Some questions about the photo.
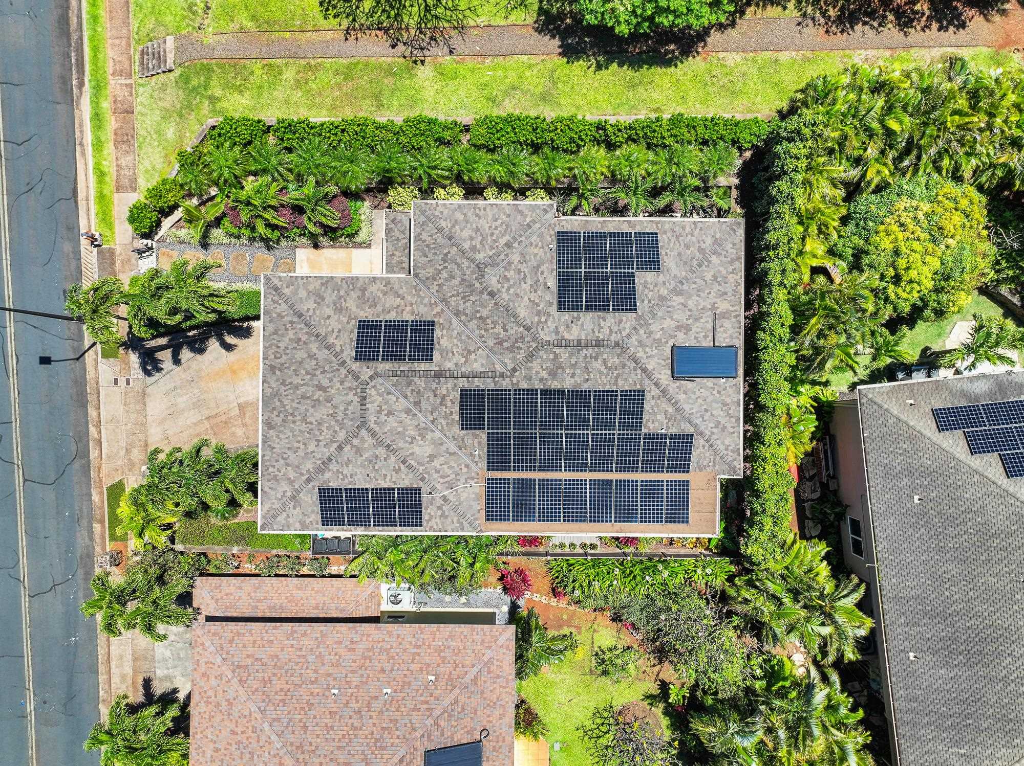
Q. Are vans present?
No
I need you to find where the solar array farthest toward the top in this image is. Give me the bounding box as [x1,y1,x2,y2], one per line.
[556,230,662,312]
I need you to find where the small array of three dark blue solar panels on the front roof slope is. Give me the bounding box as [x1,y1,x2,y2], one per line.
[353,319,435,362]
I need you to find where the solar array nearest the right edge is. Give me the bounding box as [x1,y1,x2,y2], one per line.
[933,395,1024,479]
